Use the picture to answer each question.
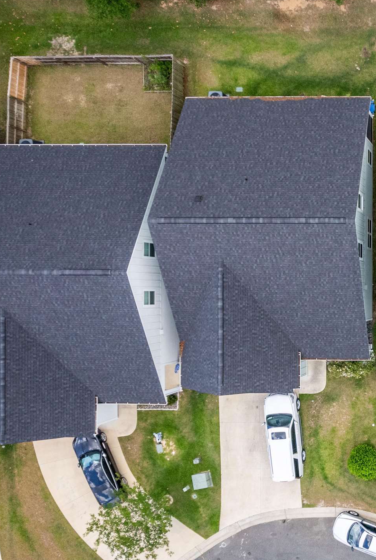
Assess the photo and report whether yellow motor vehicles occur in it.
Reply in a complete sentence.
No, I find no yellow motor vehicle anywhere in the image.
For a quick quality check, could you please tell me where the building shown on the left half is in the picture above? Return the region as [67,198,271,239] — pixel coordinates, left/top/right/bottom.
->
[0,142,182,445]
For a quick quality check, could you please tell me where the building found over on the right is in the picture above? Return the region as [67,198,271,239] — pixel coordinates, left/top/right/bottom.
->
[148,95,375,397]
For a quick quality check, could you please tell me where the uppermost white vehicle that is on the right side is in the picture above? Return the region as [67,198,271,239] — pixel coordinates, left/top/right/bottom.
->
[258,390,307,483]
